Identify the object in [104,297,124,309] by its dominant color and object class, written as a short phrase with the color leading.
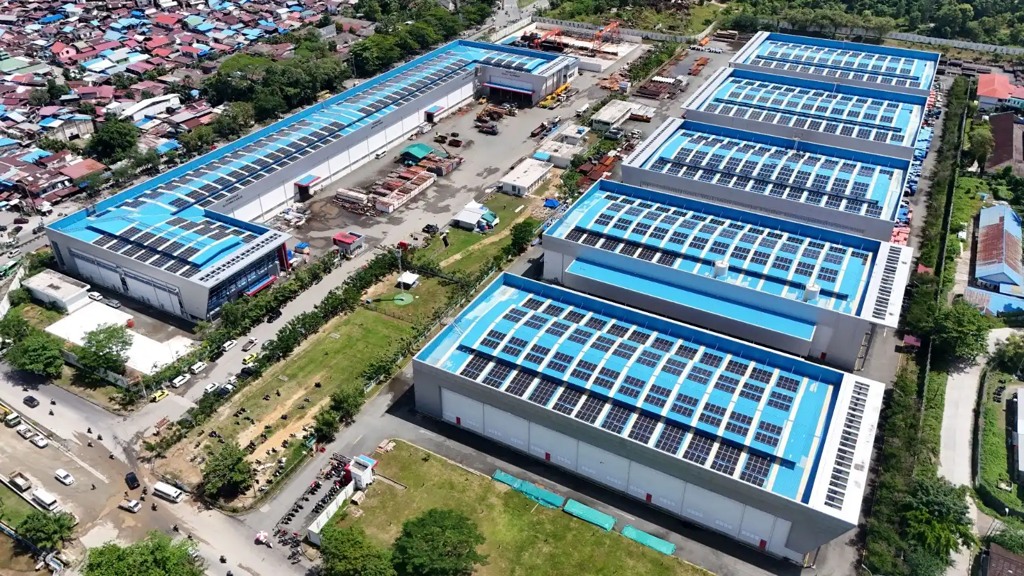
gray vehicle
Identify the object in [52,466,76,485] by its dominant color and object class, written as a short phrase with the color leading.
white car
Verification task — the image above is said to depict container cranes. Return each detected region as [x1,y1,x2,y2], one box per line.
[532,16,565,48]
[591,8,623,50]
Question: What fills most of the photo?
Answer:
buildings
